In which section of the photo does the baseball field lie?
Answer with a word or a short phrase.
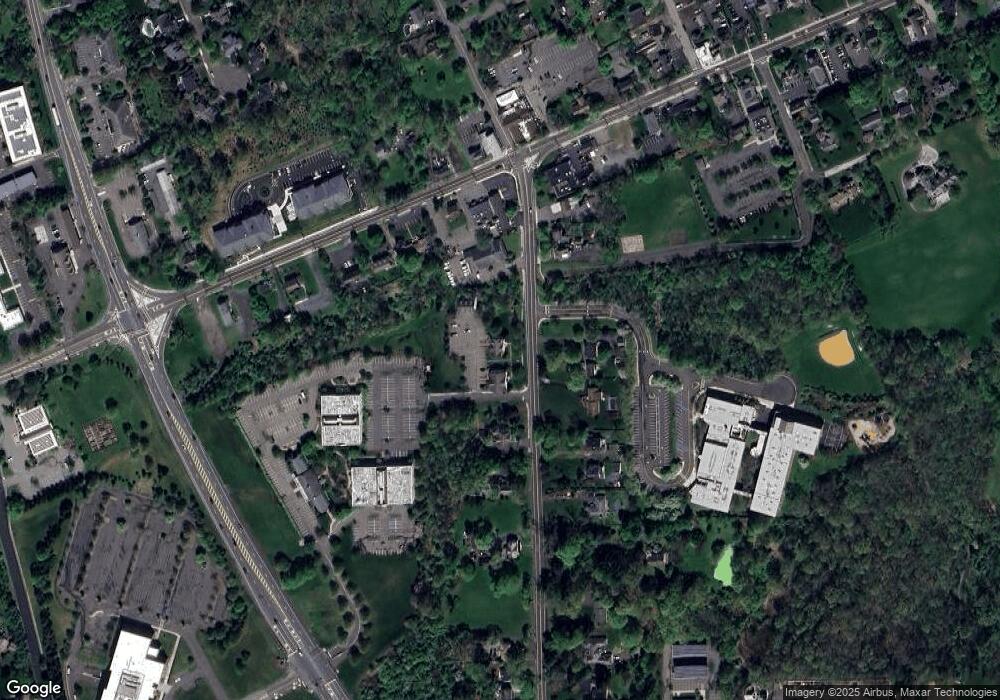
right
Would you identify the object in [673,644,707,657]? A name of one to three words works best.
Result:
shed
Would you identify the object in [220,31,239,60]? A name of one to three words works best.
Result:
house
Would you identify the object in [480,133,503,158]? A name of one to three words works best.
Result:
building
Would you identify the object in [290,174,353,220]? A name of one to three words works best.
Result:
building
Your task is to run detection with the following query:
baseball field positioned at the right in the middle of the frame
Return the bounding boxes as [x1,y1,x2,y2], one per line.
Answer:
[819,327,860,366]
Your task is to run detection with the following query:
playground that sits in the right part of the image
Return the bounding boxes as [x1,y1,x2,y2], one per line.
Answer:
[848,419,896,449]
